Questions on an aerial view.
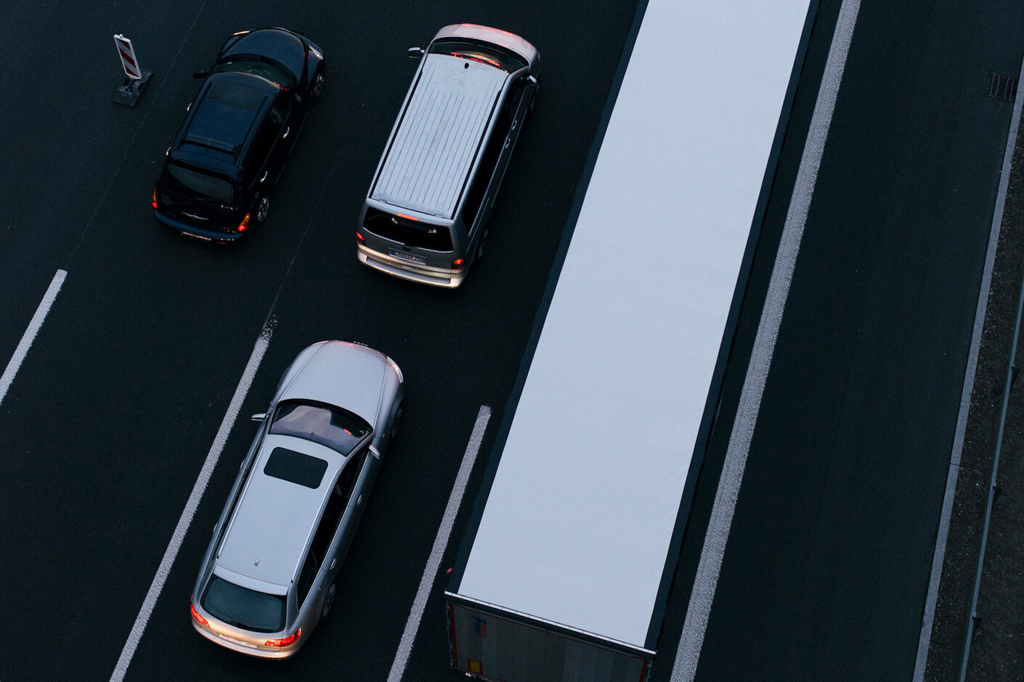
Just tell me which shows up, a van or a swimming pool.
van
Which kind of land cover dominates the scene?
paved ground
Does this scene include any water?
No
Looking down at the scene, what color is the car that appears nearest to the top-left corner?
black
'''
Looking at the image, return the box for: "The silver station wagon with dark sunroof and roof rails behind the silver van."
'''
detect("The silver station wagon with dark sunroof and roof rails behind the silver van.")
[193,338,403,663]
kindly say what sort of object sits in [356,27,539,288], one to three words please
van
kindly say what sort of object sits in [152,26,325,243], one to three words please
car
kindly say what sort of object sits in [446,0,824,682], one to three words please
trailer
